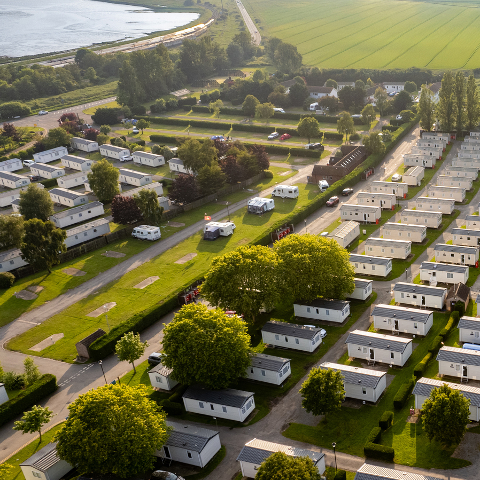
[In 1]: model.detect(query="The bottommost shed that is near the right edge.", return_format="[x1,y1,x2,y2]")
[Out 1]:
[442,279,475,315]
